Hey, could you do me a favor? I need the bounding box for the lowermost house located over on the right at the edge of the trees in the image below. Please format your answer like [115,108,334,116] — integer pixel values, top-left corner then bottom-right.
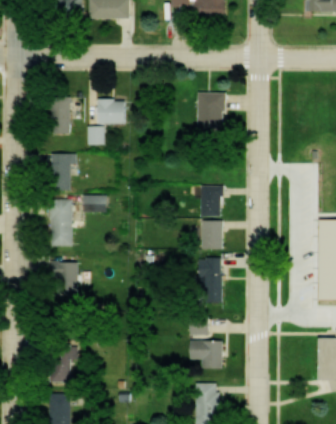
[195,384,219,424]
